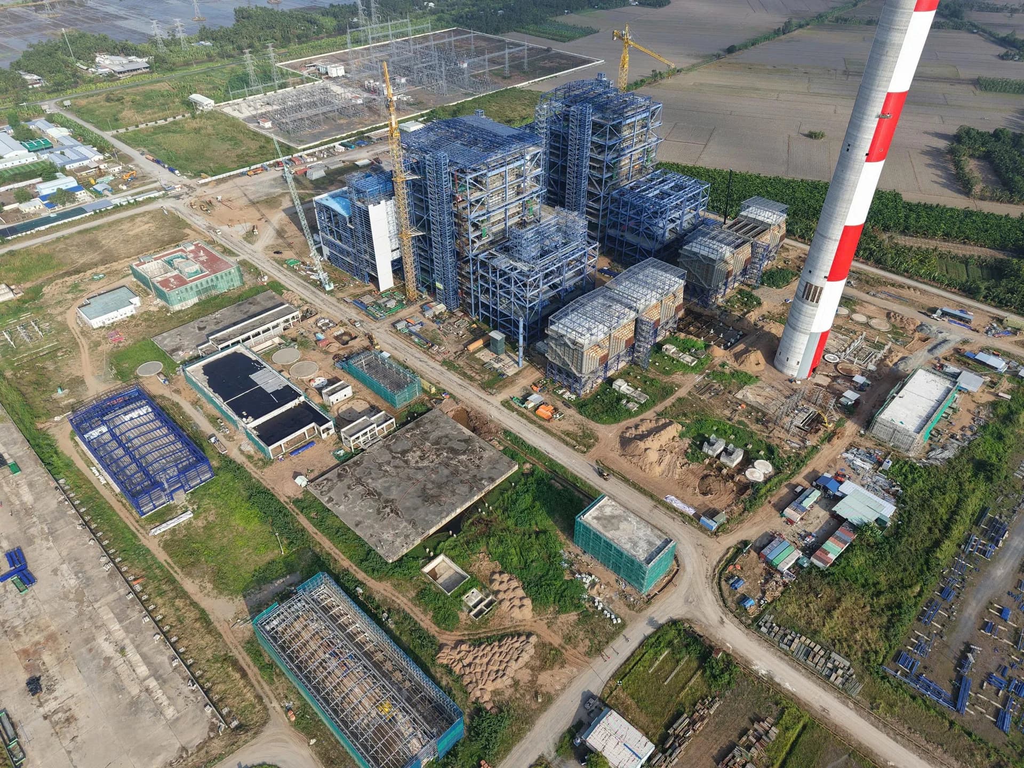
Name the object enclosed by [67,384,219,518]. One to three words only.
building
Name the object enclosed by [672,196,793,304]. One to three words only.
building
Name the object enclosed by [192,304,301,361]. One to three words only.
shed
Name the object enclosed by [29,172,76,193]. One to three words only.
shed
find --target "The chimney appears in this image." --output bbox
[774,0,939,381]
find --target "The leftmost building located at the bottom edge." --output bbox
[252,570,497,768]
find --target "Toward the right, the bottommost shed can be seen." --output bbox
[579,700,660,768]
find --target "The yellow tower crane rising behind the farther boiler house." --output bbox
[607,27,676,90]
